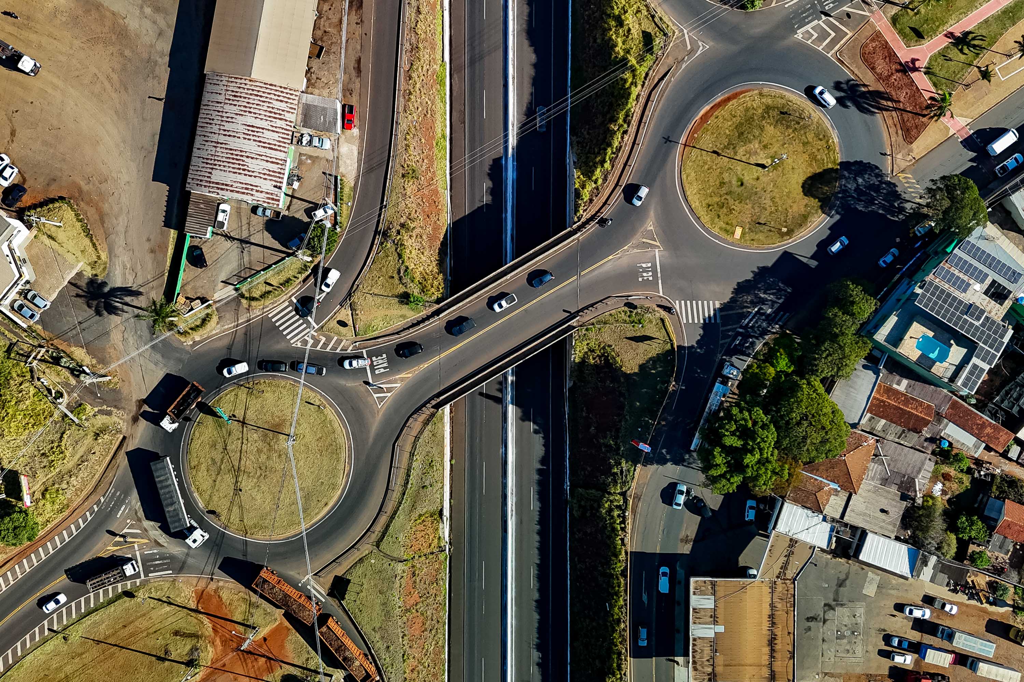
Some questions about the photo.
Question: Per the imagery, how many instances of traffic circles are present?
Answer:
2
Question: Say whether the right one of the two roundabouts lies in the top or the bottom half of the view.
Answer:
top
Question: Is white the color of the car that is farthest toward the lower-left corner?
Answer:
Yes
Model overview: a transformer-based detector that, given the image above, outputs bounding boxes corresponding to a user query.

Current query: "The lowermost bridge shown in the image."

[422,220,615,403]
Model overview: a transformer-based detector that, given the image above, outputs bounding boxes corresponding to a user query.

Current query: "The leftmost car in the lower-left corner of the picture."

[41,593,68,615]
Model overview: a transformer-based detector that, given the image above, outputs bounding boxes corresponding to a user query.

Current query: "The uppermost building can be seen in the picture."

[205,0,316,95]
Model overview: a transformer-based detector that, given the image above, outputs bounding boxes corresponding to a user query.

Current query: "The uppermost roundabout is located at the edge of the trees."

[632,39,885,293]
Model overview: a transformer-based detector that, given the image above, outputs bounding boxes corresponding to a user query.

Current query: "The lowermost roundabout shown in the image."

[149,341,385,576]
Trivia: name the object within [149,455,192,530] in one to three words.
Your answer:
trailer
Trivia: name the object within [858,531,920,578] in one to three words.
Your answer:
shed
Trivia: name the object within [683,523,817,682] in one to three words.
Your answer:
building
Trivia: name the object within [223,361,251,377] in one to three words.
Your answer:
vehicle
